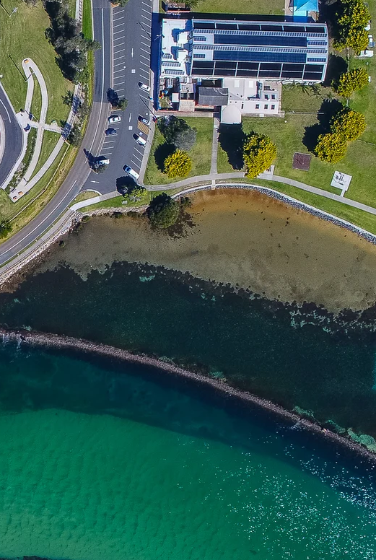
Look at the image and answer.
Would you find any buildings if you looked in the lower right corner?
No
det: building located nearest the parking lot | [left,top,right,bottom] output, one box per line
[190,18,329,87]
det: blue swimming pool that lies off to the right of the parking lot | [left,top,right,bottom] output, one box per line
[293,1,309,22]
